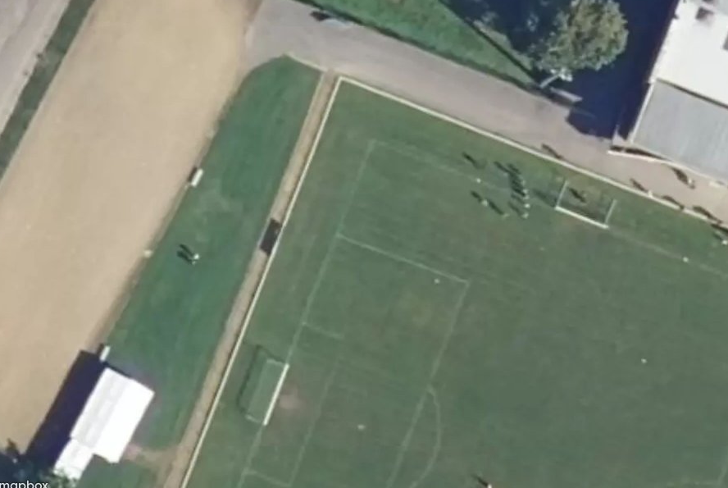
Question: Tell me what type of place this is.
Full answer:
What you see here is a sports ground.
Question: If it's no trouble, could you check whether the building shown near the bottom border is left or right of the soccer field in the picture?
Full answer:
You can see the building shown near the bottom border positioned to the left of the soccer field.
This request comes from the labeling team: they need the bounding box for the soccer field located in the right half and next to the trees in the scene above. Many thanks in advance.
[185,82,728,488]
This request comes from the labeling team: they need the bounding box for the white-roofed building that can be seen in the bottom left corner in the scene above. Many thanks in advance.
[55,368,154,478]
